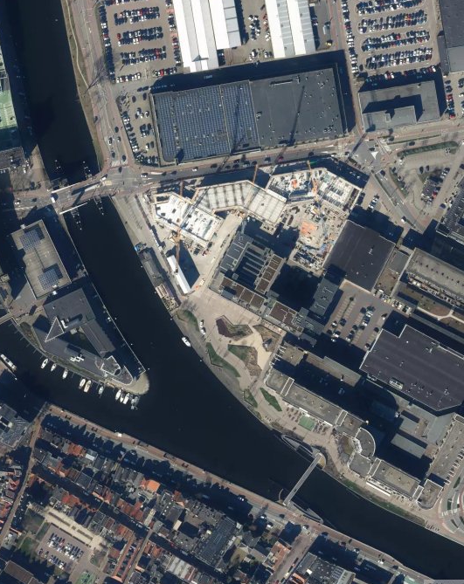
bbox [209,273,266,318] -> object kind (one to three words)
building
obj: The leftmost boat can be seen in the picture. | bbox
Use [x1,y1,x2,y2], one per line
[0,353,17,371]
